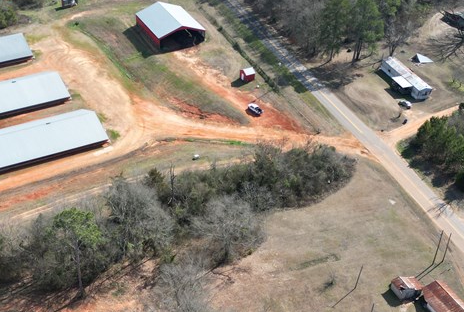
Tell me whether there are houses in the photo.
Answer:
Yes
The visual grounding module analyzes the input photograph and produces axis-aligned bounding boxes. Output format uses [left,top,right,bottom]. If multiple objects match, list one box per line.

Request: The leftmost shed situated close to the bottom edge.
[390,271,427,299]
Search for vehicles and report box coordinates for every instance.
[398,101,413,109]
[246,105,262,115]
